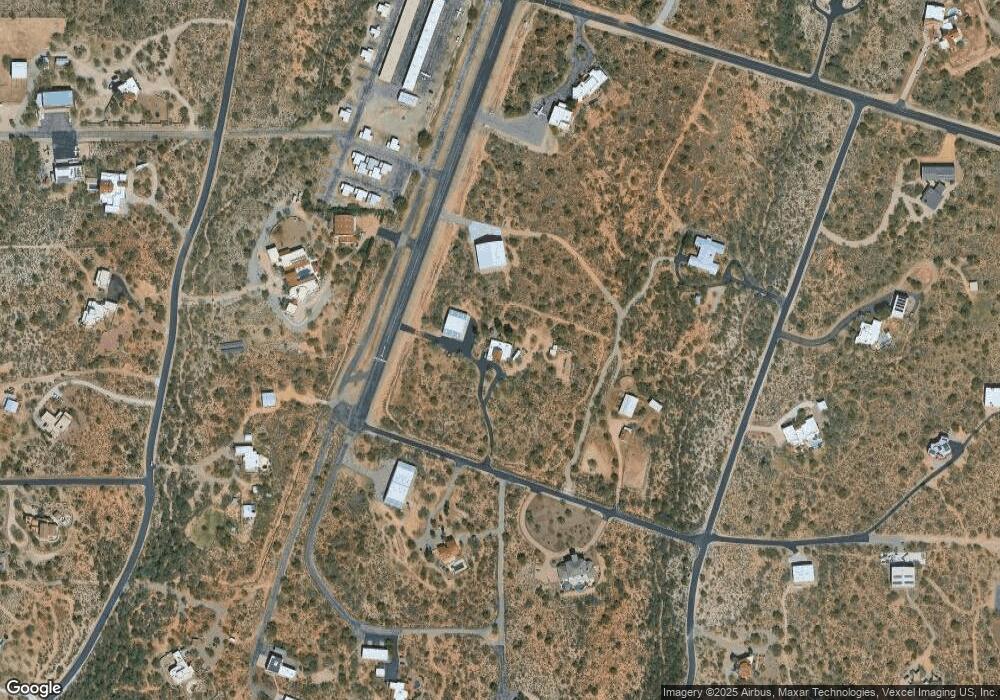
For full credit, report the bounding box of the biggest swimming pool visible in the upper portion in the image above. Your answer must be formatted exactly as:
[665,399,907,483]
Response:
[296,265,314,281]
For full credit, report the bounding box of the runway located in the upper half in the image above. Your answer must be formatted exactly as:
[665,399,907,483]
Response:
[353,0,517,423]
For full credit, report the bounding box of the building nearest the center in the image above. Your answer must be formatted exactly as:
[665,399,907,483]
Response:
[487,340,512,360]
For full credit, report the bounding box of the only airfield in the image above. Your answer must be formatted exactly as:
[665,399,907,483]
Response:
[245,0,517,700]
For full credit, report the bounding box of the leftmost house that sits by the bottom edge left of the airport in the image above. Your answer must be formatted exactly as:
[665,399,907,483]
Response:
[170,651,194,684]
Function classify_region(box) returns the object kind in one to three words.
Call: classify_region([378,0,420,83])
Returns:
building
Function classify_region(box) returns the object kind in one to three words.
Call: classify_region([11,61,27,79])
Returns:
shed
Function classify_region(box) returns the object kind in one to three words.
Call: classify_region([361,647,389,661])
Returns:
hangar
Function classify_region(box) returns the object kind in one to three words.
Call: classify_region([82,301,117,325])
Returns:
house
